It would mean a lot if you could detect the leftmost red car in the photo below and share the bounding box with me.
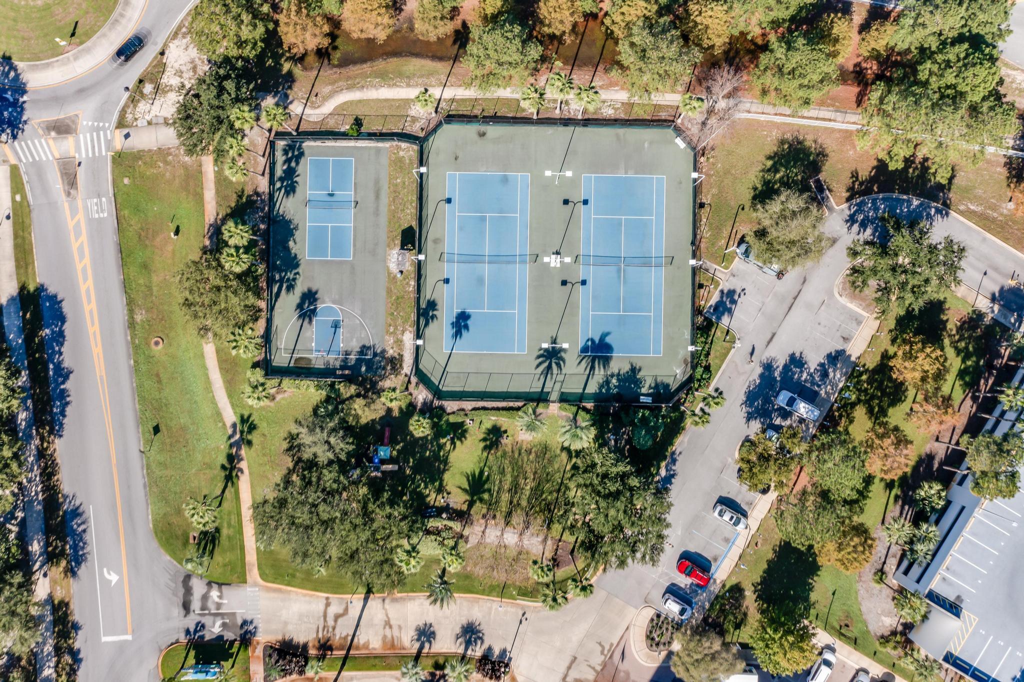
[675,558,713,588]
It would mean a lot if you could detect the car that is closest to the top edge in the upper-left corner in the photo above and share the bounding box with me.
[111,33,149,66]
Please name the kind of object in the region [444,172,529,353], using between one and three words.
tennis court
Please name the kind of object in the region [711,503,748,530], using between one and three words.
car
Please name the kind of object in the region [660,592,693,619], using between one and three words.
car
